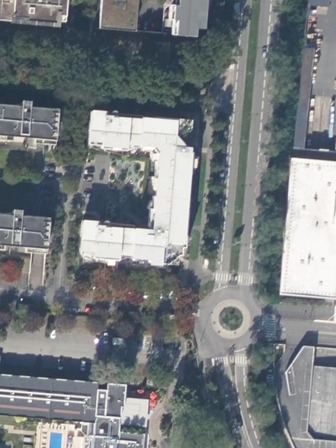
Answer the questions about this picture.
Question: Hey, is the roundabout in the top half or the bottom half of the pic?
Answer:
bottom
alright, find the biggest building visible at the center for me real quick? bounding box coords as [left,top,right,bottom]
[80,110,198,270]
